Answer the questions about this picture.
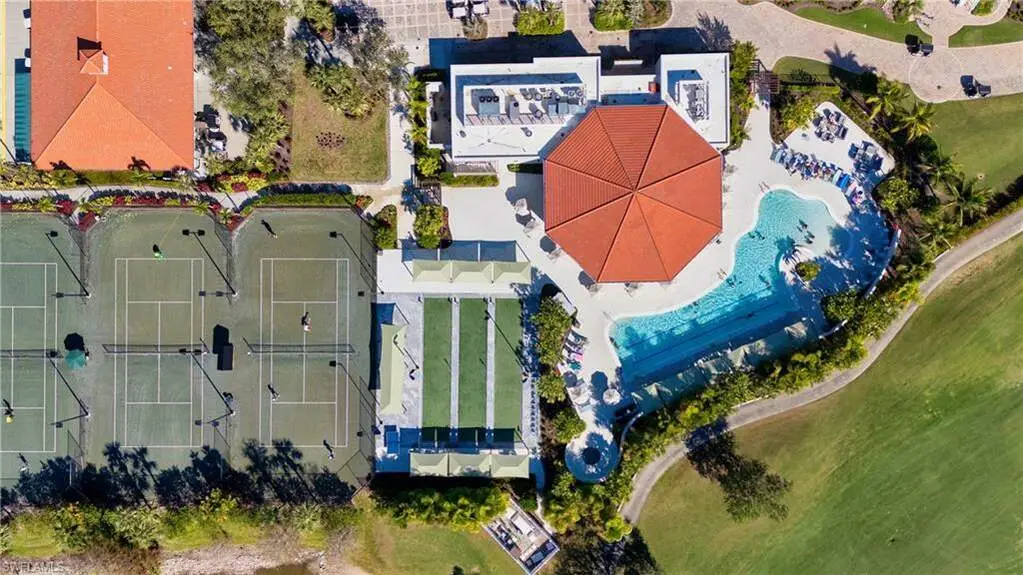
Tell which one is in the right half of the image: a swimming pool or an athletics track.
swimming pool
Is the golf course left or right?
right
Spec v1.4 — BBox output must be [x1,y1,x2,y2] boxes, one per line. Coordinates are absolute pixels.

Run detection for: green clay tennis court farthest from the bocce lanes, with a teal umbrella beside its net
[0,212,82,504]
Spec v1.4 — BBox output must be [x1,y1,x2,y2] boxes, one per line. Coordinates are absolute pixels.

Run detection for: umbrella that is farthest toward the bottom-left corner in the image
[66,347,86,367]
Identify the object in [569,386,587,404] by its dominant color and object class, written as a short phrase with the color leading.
white umbrella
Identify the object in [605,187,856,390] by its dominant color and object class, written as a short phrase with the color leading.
blue swimming pool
